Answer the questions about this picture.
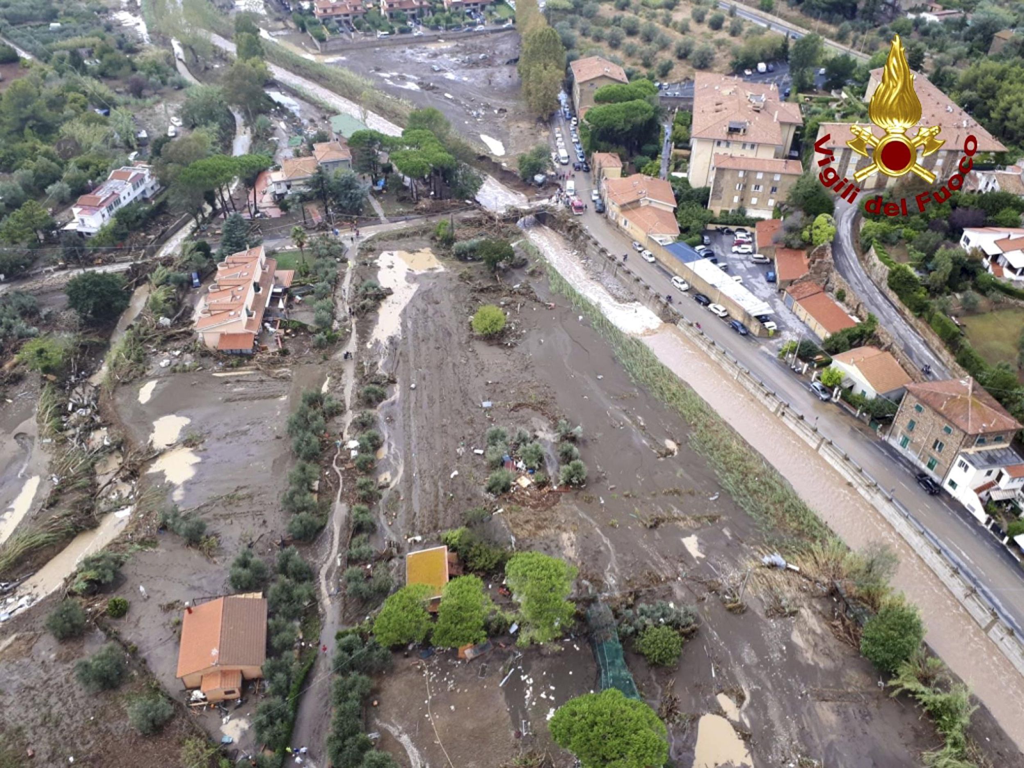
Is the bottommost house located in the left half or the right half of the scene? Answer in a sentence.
The bottommost house appears in the left half of the scene.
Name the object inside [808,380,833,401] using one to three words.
car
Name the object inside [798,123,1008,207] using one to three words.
building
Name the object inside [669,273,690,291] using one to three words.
car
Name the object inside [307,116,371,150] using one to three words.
shed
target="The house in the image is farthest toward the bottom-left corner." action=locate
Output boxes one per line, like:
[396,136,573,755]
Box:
[177,591,280,703]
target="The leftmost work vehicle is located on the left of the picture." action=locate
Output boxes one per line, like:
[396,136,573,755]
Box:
[51,252,69,269]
